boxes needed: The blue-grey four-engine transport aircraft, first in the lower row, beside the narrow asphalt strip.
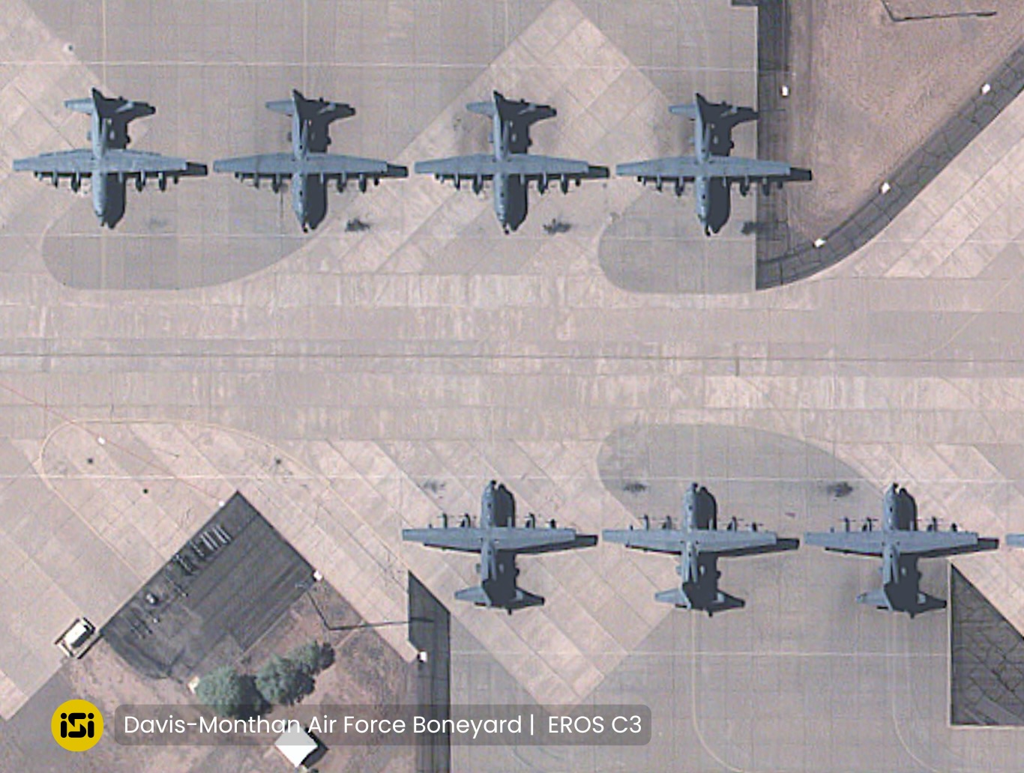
[402,480,576,610]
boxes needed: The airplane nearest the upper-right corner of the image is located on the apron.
[615,92,789,235]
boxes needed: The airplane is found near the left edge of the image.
[11,87,185,225]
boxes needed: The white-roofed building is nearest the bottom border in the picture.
[273,723,317,768]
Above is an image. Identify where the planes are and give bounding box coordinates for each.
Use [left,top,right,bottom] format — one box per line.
[804,484,978,614]
[11,87,185,225]
[402,480,576,610]
[1006,535,1024,548]
[615,92,789,235]
[602,482,776,611]
[414,89,588,233]
[212,88,386,232]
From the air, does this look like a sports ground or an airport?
airport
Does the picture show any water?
No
